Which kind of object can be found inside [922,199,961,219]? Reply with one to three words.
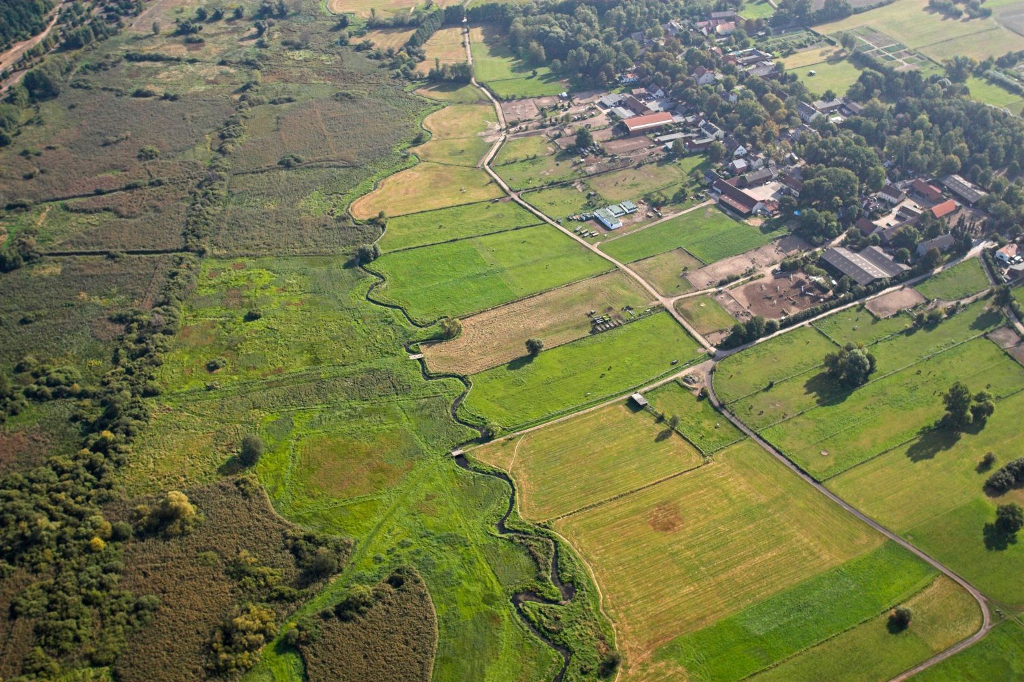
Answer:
barn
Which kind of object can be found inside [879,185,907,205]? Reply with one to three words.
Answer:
house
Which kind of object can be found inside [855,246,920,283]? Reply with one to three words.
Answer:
building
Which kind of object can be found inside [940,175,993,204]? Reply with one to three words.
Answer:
shed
